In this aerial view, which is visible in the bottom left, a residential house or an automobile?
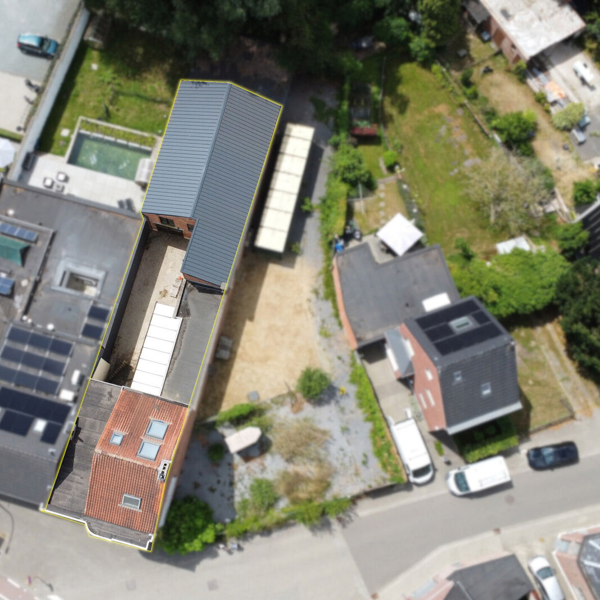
residential house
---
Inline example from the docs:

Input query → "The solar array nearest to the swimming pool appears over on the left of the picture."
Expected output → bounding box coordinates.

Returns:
[0,222,39,244]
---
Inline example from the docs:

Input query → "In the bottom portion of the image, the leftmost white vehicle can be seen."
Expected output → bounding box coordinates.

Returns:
[385,412,432,486]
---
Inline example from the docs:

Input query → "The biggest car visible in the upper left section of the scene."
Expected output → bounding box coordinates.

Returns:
[15,33,61,60]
